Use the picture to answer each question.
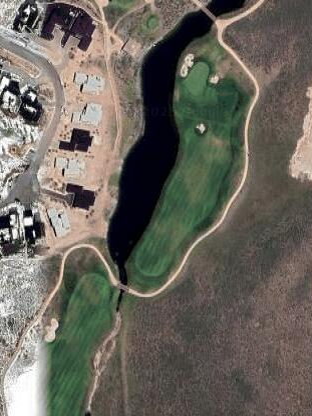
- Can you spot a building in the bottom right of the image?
No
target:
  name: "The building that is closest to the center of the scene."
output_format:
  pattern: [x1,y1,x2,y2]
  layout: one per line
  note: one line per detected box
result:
[66,183,95,211]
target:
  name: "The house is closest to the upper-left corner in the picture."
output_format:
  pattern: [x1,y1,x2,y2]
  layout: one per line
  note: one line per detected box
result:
[12,0,37,34]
